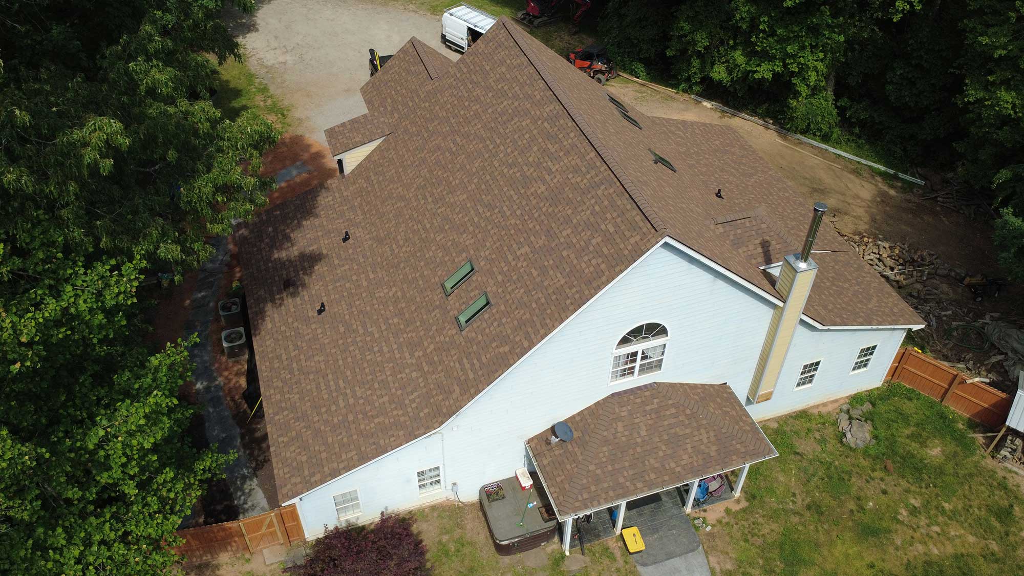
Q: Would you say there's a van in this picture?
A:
Yes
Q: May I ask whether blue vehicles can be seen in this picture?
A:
No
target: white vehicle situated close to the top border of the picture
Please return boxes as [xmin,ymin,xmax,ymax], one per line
[440,2,498,50]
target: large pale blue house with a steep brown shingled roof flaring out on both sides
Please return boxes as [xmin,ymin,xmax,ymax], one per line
[235,16,925,555]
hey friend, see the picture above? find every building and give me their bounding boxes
[235,16,925,555]
[987,375,1024,455]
